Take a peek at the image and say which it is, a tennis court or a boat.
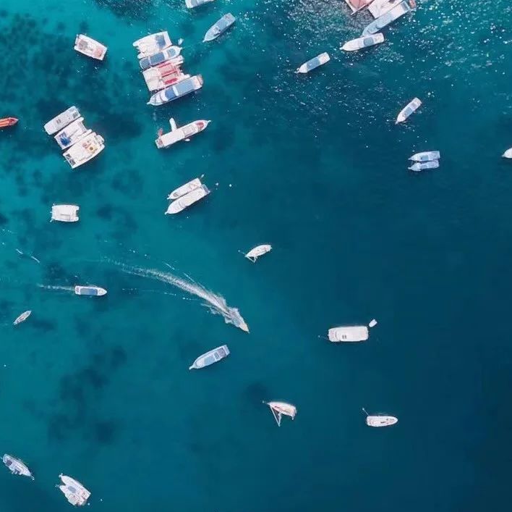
boat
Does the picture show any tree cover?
No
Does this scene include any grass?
No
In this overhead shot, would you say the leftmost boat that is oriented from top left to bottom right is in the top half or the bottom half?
bottom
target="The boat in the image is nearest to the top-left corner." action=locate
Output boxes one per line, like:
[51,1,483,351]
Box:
[73,35,107,60]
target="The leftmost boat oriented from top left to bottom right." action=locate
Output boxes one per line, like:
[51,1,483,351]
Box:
[0,455,33,479]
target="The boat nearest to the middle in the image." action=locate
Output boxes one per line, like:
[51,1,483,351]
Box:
[246,244,273,261]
